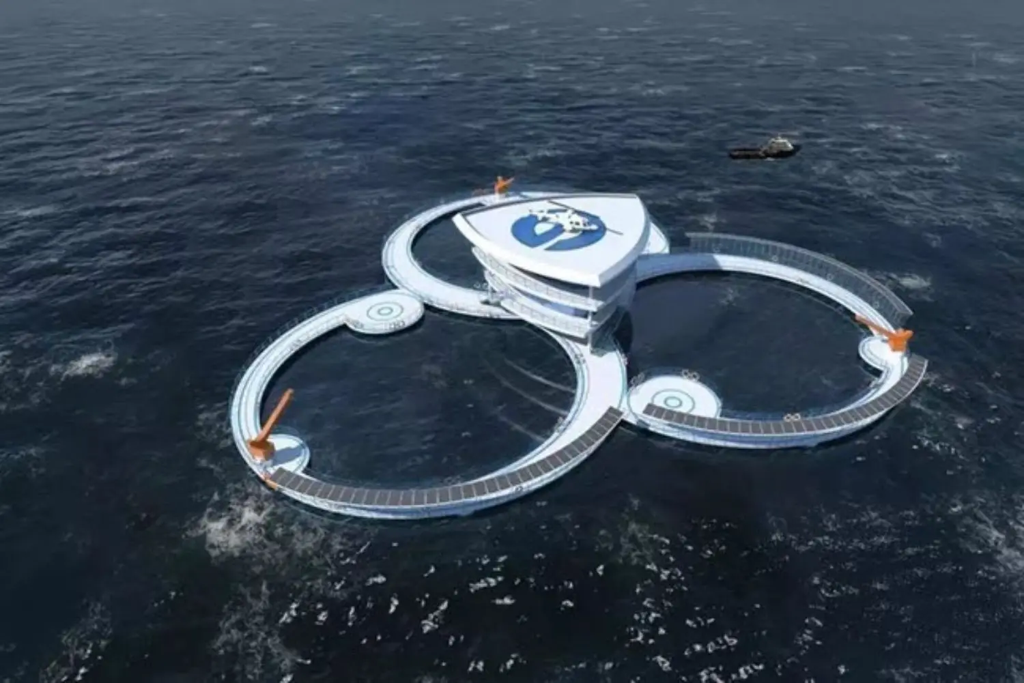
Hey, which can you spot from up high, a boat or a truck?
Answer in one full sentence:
It is a boat that can be seen here.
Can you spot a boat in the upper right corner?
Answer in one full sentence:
Yes, I can see a boat in the upper right corner.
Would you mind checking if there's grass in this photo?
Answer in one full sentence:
No, the scene doesn't show any grass.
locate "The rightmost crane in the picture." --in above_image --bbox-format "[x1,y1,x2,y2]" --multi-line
[851,313,919,355]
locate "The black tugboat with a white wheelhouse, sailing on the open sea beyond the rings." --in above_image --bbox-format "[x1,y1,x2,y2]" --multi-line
[727,130,806,160]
